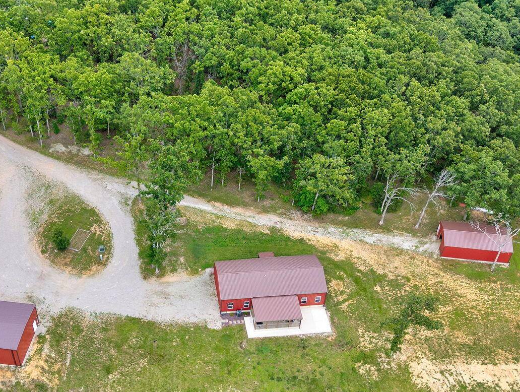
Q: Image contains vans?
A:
No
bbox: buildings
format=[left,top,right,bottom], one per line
[438,222,514,264]
[215,252,328,331]
[0,300,40,366]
